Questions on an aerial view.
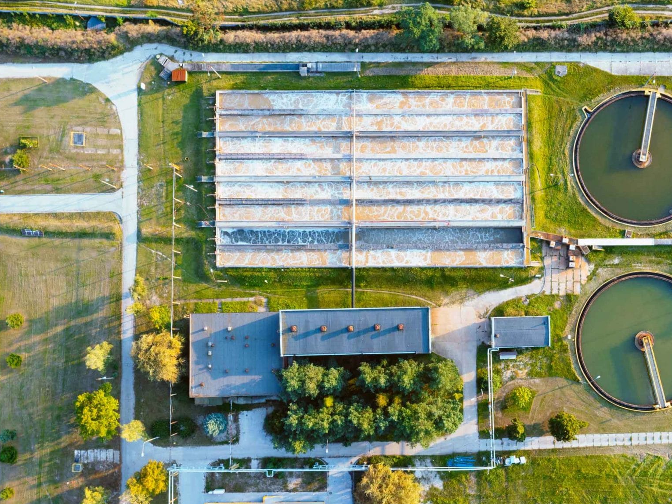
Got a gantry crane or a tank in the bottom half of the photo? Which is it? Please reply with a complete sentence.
The feature located in the bottom half of the photo is a tank.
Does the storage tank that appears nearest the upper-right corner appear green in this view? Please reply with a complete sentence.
Yes, the storage tank that appears nearest the upper-right corner is green.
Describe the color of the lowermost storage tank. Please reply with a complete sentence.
The color of the lowermost storage tank is green.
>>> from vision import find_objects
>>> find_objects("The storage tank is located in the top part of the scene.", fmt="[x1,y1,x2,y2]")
[573,89,672,227]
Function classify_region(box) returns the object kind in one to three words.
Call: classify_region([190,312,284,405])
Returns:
building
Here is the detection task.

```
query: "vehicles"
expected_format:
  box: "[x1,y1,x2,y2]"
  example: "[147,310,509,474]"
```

[208,489,224,495]
[504,456,528,469]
